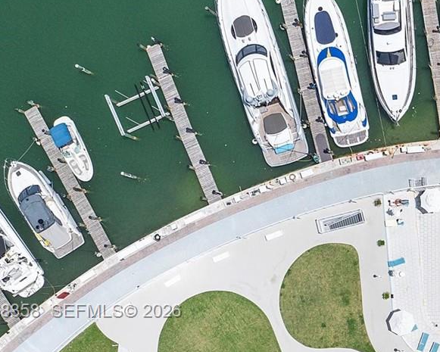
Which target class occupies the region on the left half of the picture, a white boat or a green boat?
white boat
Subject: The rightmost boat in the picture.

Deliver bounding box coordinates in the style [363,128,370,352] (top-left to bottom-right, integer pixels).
[368,0,420,125]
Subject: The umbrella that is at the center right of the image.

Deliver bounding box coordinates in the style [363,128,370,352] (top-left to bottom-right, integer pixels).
[420,187,440,214]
